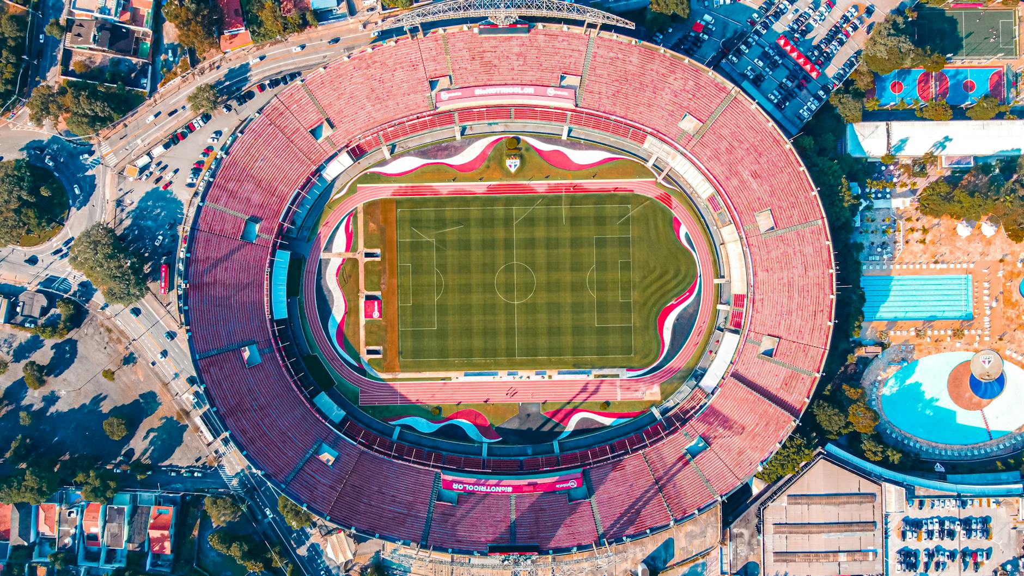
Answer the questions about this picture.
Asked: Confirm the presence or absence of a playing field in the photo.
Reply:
Yes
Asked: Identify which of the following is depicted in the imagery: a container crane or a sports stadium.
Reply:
sports stadium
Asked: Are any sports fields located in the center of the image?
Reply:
Yes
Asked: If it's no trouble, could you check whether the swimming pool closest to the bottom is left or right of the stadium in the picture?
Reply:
to the right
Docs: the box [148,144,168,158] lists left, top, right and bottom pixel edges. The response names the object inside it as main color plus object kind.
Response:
white vehicle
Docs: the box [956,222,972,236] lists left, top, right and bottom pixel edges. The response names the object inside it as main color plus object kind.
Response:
white umbrella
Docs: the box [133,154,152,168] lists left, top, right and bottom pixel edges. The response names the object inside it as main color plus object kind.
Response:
white vehicle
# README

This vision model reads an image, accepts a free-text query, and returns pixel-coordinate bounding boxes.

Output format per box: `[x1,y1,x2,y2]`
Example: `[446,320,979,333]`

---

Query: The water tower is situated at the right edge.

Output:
[970,349,1004,383]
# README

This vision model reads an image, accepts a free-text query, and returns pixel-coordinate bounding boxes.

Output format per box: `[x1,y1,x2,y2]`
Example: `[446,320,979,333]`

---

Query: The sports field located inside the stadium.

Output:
[397,193,698,372]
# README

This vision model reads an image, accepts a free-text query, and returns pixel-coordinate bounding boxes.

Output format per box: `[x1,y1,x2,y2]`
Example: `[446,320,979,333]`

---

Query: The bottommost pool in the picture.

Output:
[880,351,1024,446]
